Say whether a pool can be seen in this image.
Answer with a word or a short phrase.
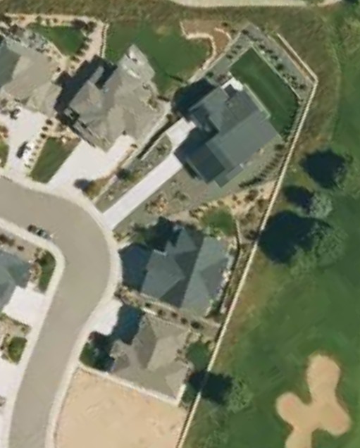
No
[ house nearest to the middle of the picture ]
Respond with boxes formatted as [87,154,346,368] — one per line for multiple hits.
[135,221,231,316]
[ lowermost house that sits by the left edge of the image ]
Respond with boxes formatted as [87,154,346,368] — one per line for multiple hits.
[0,251,30,317]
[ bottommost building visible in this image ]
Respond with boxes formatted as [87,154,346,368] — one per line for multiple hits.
[103,307,192,402]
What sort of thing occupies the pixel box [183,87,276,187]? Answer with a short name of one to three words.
house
